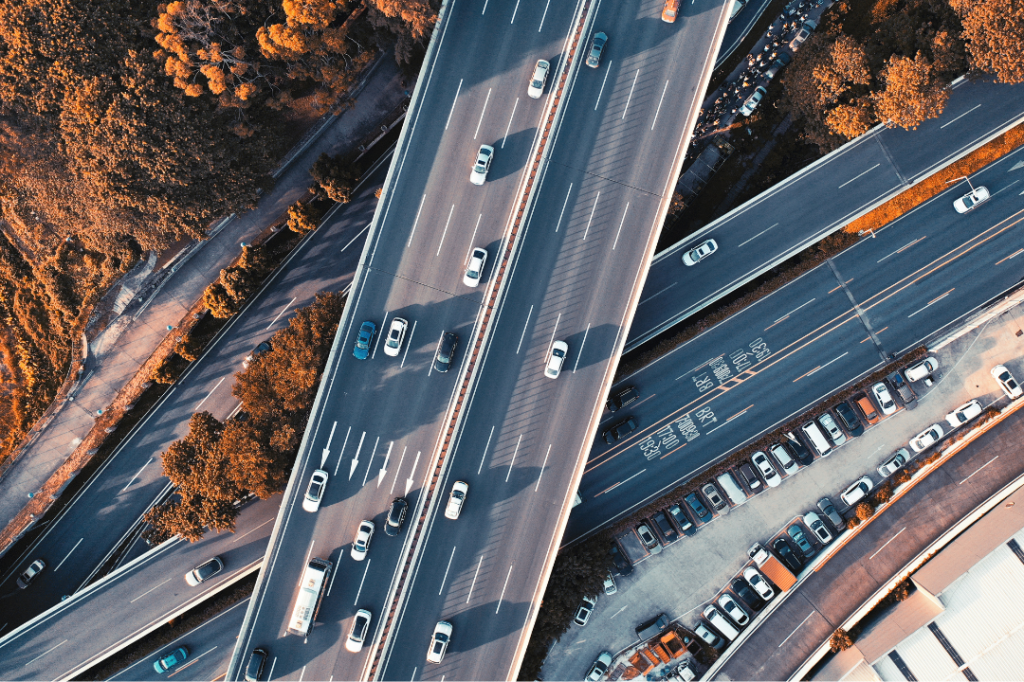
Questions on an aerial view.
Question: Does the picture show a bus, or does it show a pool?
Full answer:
Looking from above, you can make out a bus.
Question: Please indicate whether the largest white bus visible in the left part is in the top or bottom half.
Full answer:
The largest white bus visible in the left part sits in the bottom half of the picture.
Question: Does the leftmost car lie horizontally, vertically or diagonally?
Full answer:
In this picture, the leftmost car is oriented diagonally.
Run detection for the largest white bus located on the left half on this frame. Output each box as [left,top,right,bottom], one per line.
[284,553,332,646]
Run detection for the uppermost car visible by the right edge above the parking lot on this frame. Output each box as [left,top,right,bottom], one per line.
[950,184,990,213]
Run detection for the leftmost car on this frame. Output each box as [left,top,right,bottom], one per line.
[16,555,48,590]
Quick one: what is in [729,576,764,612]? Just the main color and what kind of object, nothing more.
black car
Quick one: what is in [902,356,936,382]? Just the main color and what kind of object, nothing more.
white car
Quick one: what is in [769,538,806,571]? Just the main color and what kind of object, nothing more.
black car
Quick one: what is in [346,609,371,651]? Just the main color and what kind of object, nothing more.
white car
